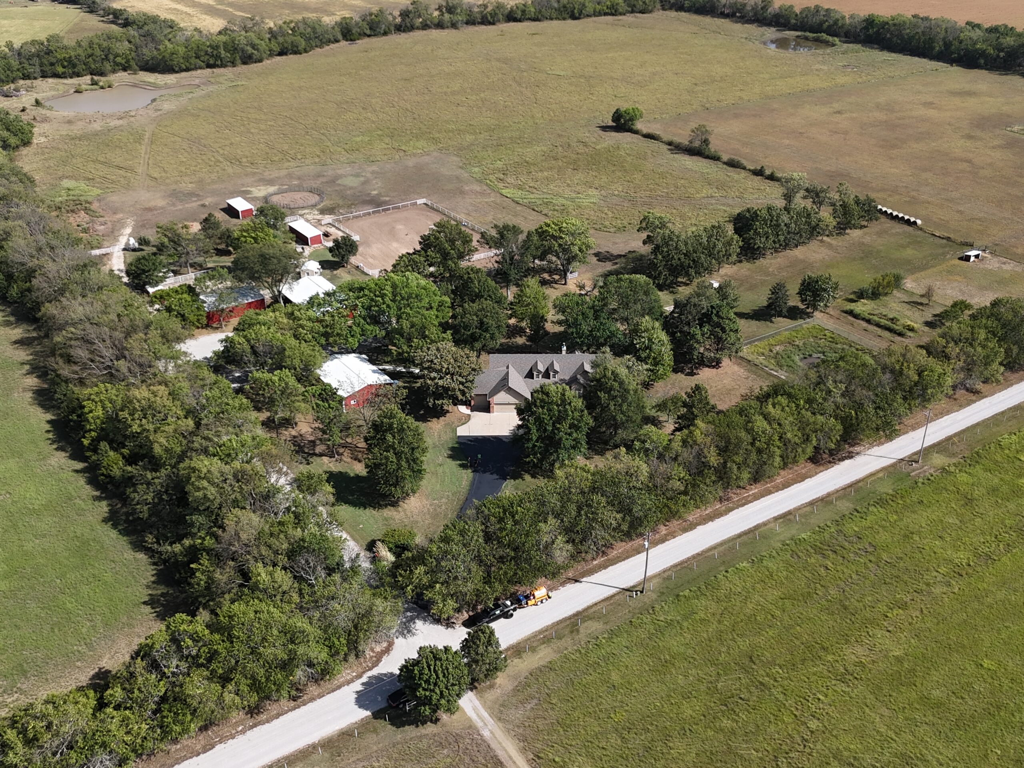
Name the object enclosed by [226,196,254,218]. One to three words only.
shed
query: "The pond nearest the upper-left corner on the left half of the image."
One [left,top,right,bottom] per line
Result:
[49,85,198,113]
